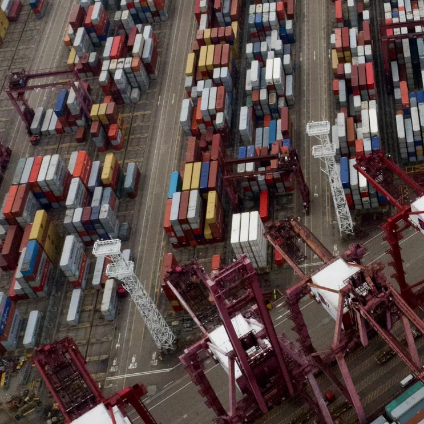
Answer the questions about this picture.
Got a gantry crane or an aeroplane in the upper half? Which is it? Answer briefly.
gantry crane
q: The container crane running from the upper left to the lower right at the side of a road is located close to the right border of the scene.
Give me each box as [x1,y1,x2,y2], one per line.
[256,205,424,424]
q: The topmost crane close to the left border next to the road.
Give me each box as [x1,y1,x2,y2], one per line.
[0,65,93,141]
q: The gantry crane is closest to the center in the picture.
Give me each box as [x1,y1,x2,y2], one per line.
[215,146,308,218]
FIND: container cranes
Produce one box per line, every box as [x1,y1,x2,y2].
[0,65,93,141]
[357,148,424,313]
[378,19,424,92]
[215,146,308,218]
[158,262,336,424]
[29,335,165,424]
[256,205,424,424]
